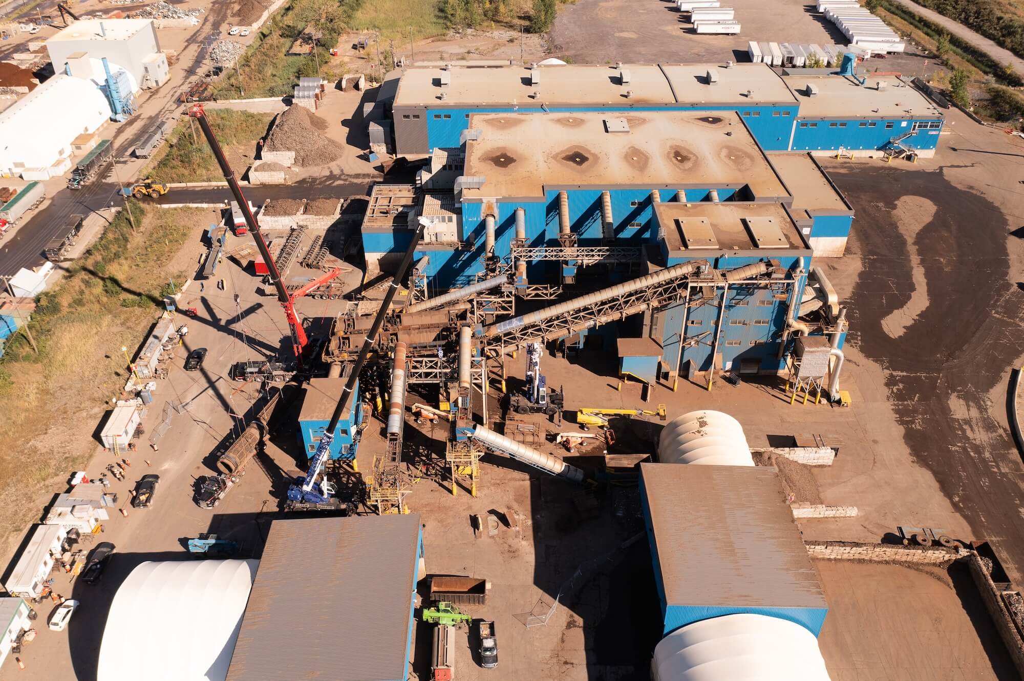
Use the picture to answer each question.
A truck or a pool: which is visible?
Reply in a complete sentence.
I can see a truck in this picture.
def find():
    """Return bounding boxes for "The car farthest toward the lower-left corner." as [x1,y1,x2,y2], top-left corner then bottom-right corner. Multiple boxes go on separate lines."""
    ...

[43,594,81,631]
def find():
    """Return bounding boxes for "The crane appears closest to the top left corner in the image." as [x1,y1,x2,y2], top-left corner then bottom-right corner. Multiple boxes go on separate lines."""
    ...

[186,96,344,396]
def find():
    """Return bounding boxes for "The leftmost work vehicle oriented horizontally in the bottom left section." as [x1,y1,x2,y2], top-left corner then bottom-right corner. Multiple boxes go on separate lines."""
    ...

[181,530,259,561]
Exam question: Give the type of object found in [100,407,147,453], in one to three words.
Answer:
building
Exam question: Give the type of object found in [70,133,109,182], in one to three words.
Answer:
truck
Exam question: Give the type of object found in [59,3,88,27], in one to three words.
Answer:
work vehicle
